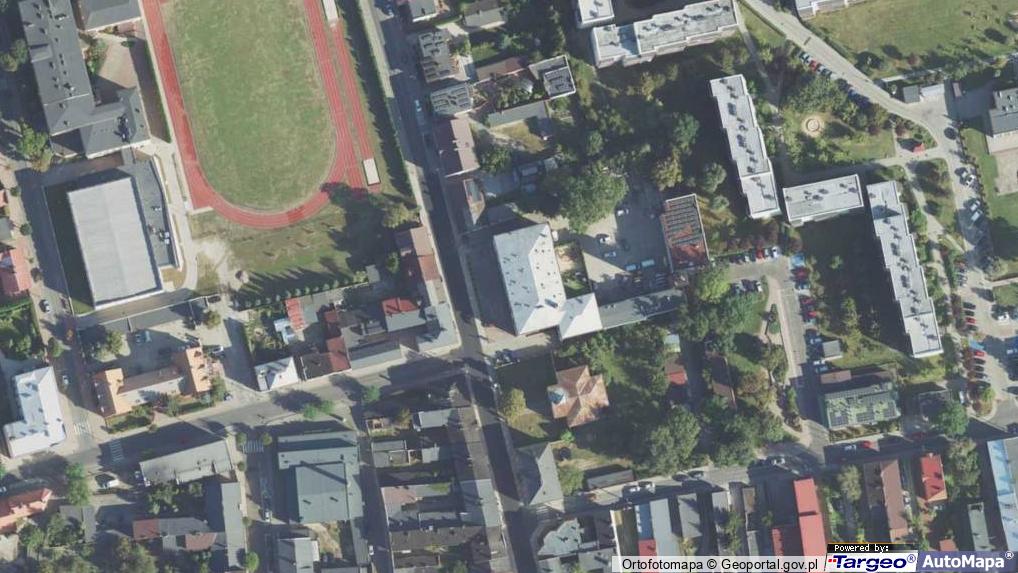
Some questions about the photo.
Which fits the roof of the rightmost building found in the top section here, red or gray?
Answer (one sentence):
The color of the roof of the rightmost building found in the top section is gray.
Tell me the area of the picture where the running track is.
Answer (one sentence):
Look in the top left portion of the view to spot the running track.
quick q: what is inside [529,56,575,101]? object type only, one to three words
house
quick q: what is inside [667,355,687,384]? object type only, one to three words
barn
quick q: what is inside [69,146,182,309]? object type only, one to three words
building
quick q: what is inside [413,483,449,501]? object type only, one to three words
shed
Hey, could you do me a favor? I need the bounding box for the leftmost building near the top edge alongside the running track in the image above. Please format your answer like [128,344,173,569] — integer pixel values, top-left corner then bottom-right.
[19,0,96,139]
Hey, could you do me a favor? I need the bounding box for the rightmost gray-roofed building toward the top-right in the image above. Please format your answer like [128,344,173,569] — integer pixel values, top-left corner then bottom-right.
[988,86,1018,139]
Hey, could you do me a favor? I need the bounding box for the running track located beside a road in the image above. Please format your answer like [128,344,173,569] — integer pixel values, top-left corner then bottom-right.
[144,0,381,229]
